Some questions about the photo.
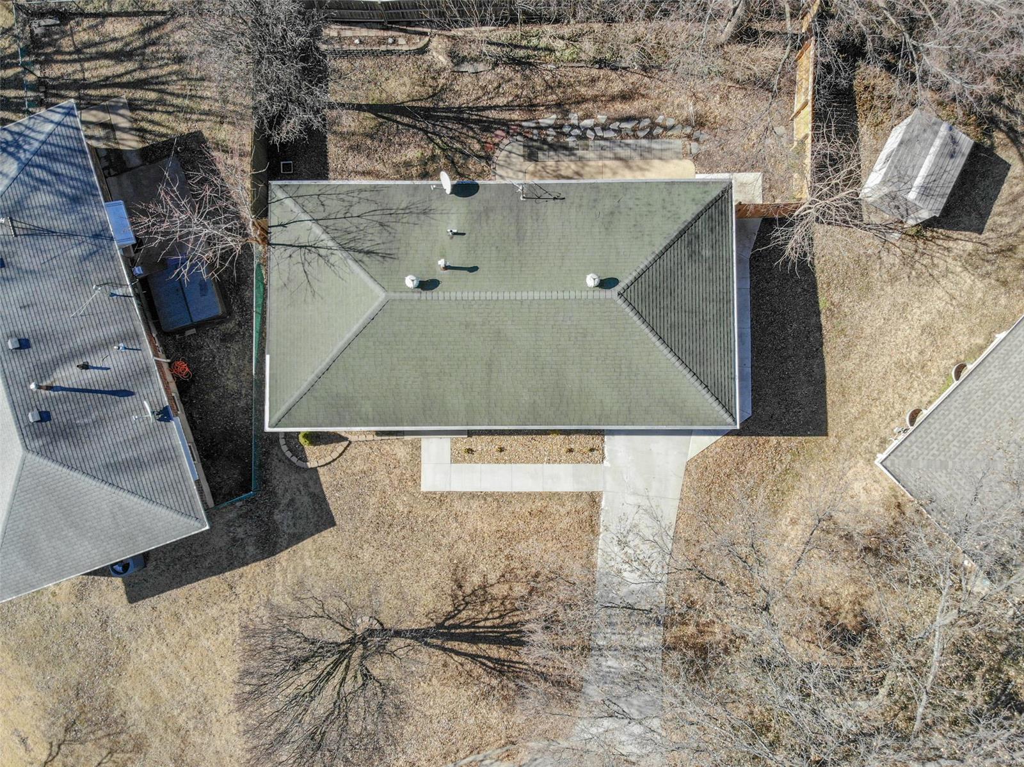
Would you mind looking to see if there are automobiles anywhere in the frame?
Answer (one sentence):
No, there appears to be no automobile in this shot.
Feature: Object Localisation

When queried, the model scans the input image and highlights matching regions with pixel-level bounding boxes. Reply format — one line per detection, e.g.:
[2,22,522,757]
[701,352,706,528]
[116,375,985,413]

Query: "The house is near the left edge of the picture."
[0,99,221,603]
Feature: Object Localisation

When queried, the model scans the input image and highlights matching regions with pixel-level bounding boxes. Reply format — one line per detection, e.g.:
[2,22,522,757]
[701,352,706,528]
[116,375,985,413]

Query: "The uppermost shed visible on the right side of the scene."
[861,104,976,219]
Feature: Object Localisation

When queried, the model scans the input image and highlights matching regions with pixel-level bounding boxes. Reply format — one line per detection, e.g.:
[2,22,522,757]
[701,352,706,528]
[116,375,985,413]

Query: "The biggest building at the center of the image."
[263,177,741,433]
